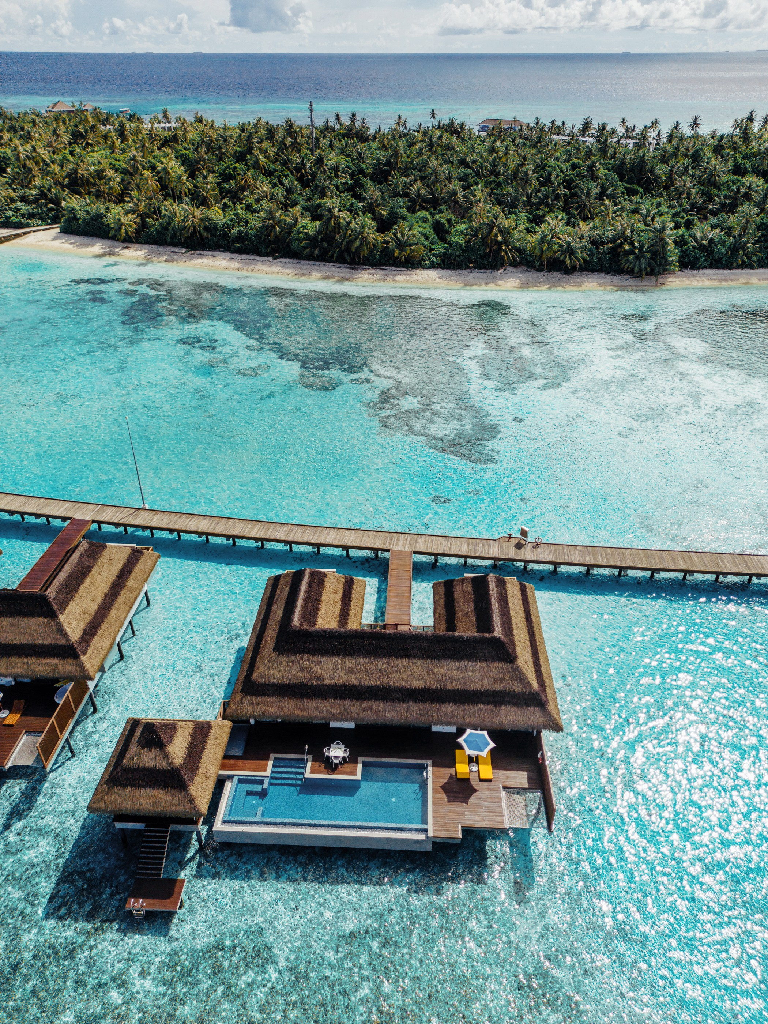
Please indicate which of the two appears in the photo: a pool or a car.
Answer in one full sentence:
This aerial view contains a pool.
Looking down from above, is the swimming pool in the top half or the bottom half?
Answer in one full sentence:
The swimming pool sits in the bottom half of the picture.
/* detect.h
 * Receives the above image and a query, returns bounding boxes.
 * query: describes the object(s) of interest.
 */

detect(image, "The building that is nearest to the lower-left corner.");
[84,714,235,854]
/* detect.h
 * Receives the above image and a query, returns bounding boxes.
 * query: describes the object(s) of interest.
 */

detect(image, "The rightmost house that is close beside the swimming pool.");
[224,563,564,736]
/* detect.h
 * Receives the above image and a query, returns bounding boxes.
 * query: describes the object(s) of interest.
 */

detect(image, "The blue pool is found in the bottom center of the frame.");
[212,754,433,857]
